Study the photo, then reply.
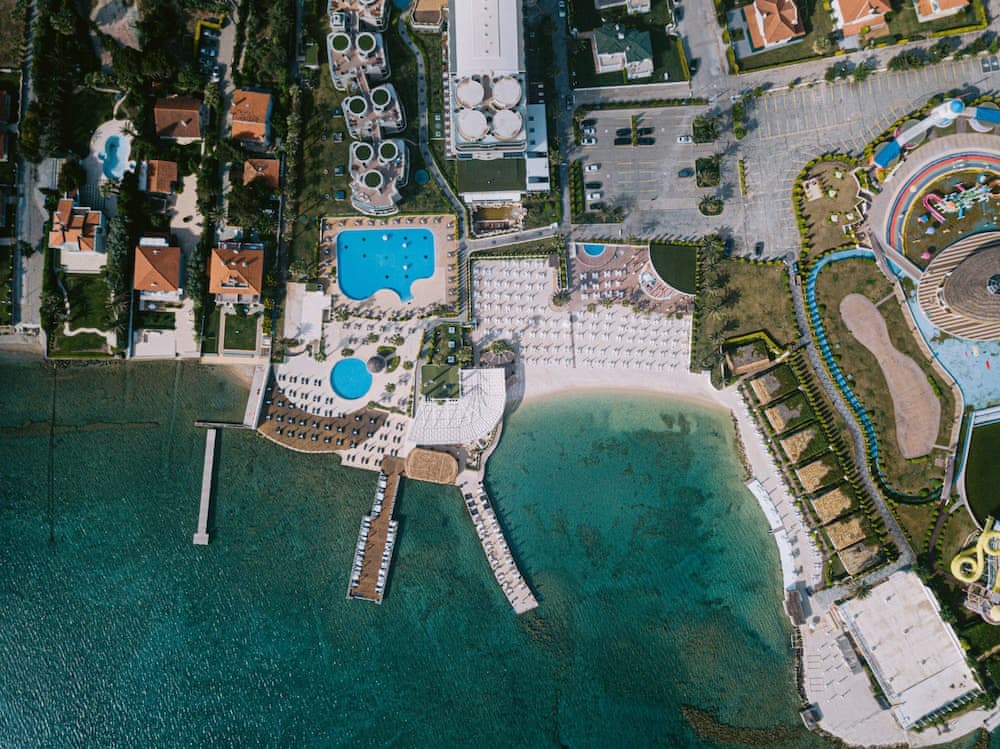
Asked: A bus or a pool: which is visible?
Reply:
pool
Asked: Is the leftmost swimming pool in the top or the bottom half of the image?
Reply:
top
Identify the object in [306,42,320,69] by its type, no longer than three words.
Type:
shed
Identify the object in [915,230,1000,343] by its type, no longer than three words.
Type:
building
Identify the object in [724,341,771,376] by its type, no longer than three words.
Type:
house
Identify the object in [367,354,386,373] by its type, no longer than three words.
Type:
umbrella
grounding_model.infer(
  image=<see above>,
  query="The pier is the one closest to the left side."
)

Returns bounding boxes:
[193,429,216,545]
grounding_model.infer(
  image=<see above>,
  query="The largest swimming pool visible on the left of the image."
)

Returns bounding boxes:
[334,226,438,303]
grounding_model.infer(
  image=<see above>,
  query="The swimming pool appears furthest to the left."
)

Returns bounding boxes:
[101,133,129,178]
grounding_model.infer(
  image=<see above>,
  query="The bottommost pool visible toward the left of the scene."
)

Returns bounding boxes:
[328,355,374,401]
